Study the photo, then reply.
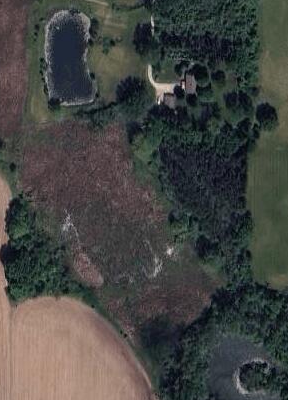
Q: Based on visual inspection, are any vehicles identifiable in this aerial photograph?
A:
No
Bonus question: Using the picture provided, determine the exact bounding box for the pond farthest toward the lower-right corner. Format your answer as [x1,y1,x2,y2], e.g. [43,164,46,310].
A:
[207,333,286,400]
